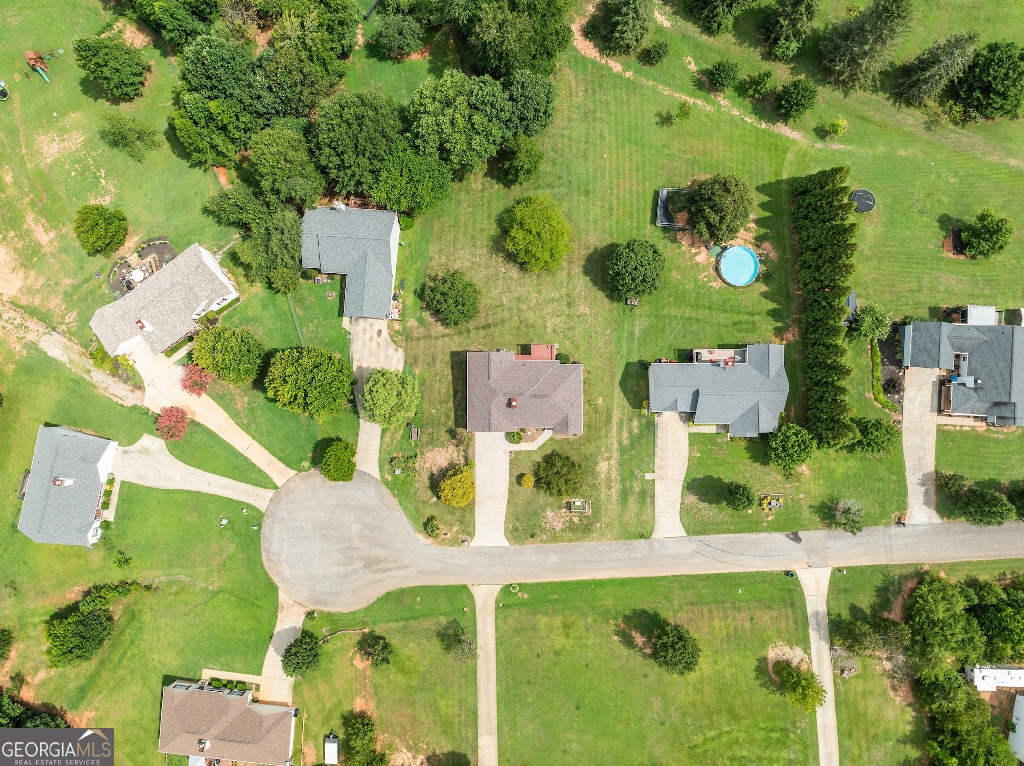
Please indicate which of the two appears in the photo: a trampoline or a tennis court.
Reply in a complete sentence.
This aerial view contains a trampoline.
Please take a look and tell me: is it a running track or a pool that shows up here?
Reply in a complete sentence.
Of the two, only a pool appears.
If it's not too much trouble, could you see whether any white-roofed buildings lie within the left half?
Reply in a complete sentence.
Yes, the scene does show a white-roofed building within the left half.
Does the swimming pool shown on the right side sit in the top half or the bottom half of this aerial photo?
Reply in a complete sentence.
Seen from above, the swimming pool shown on the right side lies in the top half of the view.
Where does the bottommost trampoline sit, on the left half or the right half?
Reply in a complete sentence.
The bottommost trampoline is on the right side of the image.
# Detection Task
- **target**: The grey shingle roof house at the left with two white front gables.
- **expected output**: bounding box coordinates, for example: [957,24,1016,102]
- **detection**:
[17,425,121,548]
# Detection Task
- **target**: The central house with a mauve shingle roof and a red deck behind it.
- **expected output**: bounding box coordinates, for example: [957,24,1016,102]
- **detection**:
[466,351,583,435]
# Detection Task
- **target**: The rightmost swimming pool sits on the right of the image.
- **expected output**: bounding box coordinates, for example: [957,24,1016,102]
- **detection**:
[715,242,762,287]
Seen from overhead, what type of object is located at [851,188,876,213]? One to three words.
trampoline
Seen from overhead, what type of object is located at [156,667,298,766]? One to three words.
house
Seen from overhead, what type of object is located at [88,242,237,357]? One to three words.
house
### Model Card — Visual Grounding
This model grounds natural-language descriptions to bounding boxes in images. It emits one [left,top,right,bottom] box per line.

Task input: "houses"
[466,351,583,435]
[998,688,1024,750]
[902,321,1024,427]
[88,242,237,357]
[648,343,792,437]
[17,425,121,548]
[156,667,298,766]
[299,201,398,320]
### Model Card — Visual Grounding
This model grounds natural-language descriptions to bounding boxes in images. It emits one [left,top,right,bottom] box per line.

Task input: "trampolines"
[851,188,876,213]
[0,85,14,103]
